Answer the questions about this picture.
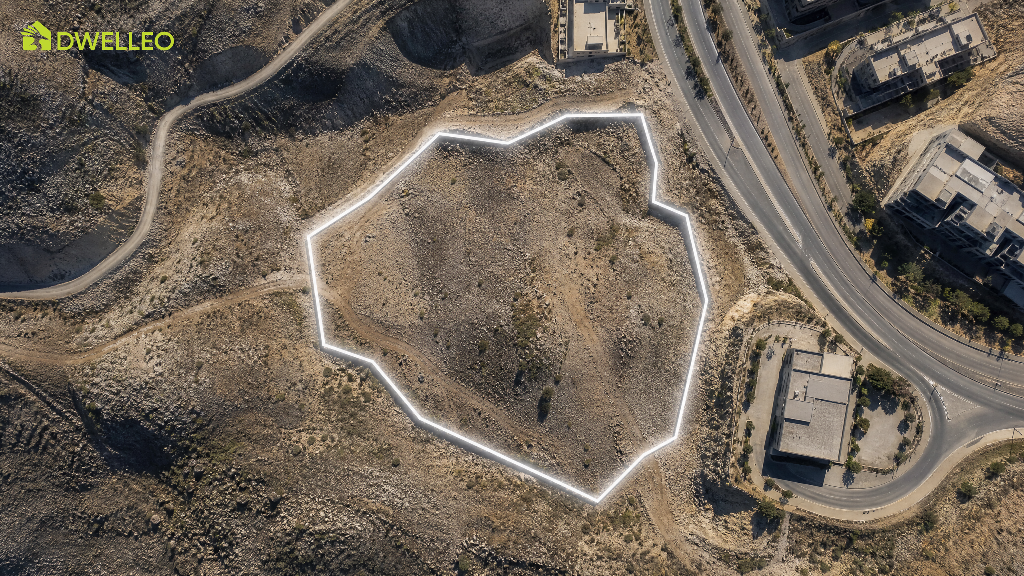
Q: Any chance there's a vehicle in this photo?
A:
No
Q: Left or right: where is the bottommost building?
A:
right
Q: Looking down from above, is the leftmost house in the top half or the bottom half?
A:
top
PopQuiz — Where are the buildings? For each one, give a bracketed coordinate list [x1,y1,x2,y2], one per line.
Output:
[841,12,996,118]
[886,128,1024,285]
[559,0,626,62]
[769,349,852,469]
[768,0,905,46]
